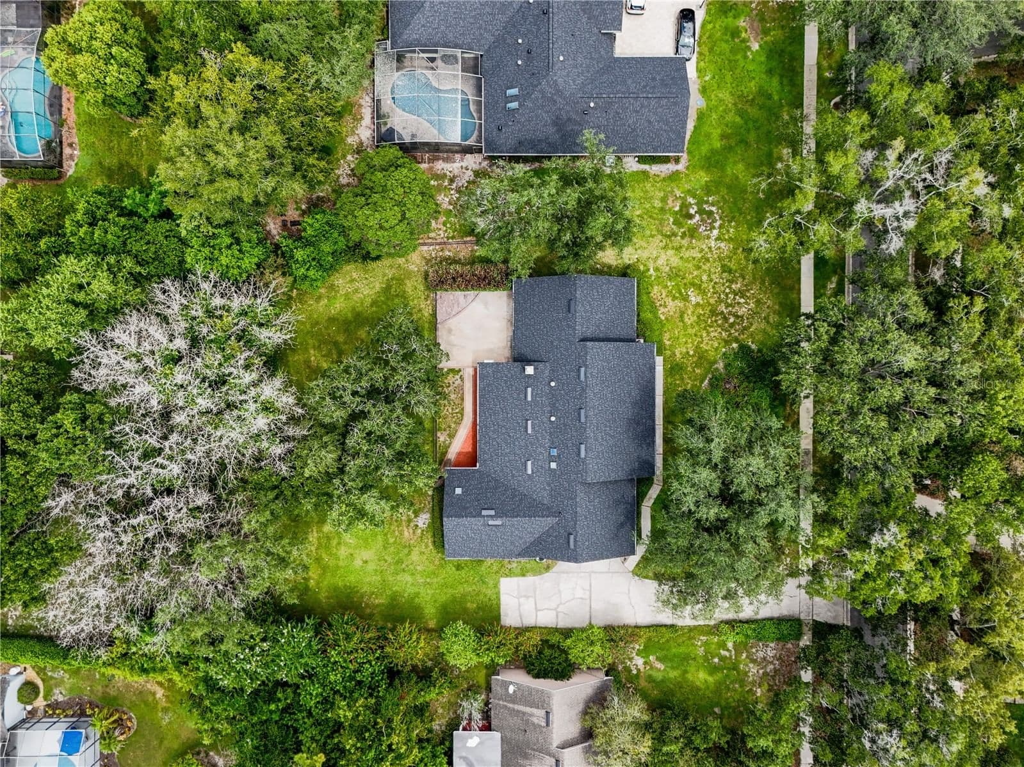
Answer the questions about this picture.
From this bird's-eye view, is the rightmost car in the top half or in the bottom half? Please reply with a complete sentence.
The rightmost car sits in the top half of the picture.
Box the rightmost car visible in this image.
[675,10,697,61]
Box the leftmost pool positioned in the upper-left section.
[0,56,53,155]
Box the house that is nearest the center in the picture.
[442,275,657,563]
